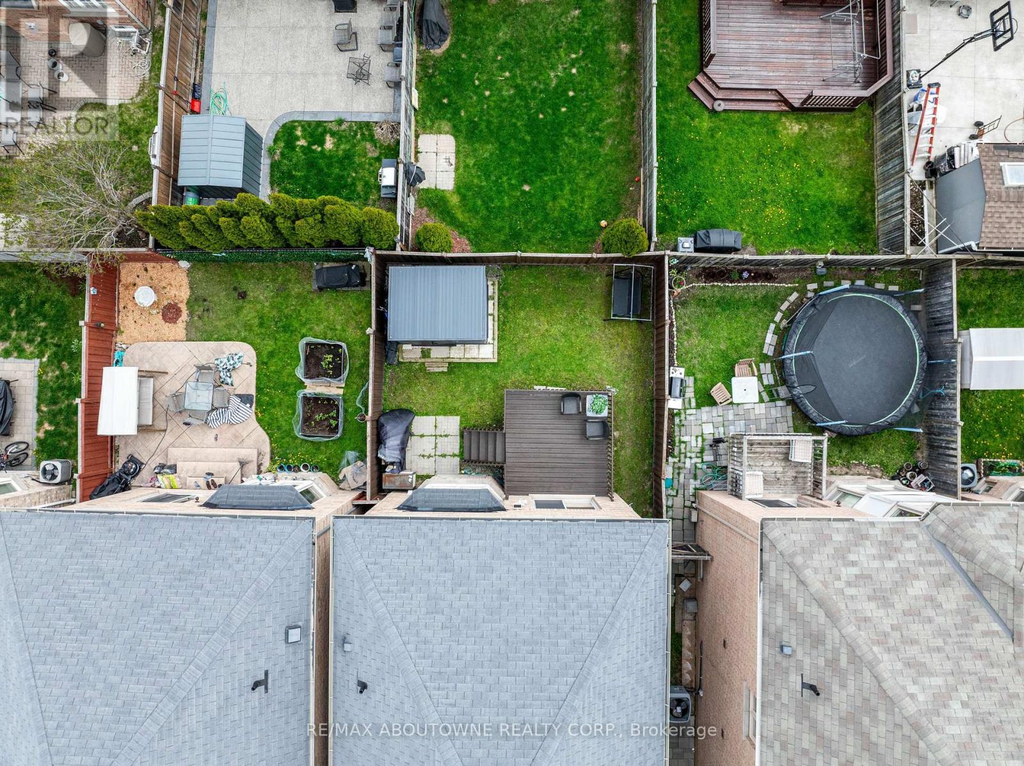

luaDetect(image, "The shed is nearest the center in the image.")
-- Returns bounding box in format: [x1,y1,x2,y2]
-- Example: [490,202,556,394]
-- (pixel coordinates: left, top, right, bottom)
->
[388,265,489,345]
